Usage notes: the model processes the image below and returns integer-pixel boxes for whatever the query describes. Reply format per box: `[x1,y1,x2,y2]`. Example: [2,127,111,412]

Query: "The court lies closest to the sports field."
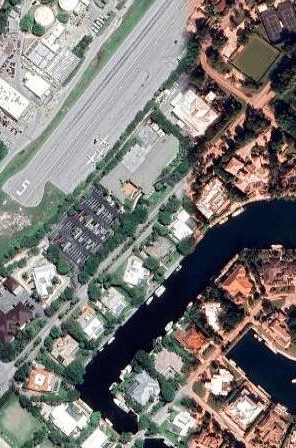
[257,7,284,44]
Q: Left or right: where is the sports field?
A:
right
